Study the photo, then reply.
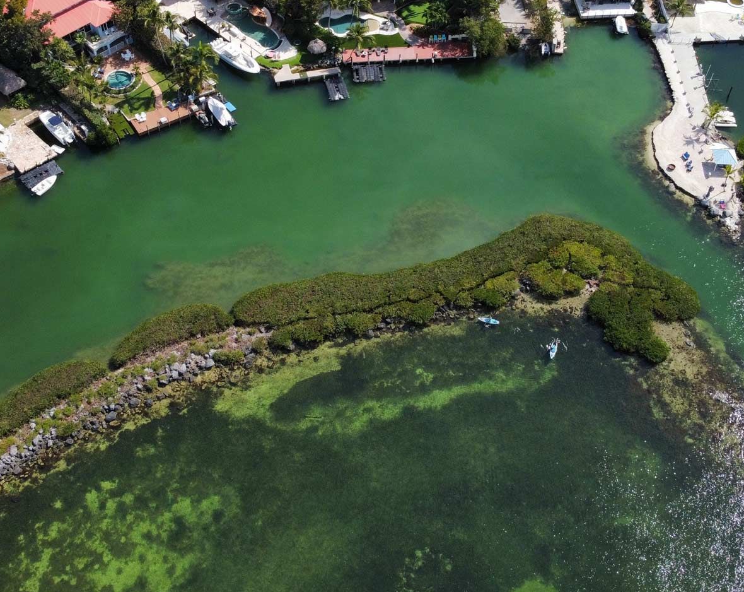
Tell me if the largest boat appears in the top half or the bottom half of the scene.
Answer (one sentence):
Seen from above, the largest boat lies in the top half of the view.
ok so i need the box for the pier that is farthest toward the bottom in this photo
[21,160,65,187]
